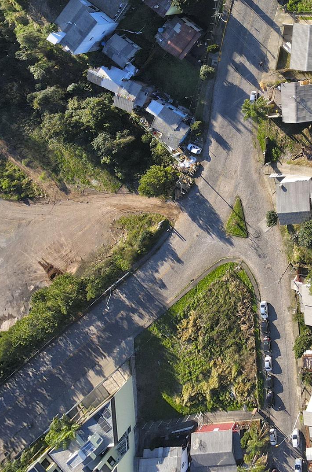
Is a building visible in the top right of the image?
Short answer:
Yes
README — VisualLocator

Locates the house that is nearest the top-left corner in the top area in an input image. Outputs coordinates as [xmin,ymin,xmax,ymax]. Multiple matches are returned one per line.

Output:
[46,0,115,54]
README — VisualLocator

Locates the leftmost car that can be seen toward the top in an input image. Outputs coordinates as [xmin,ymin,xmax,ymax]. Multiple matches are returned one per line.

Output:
[182,143,203,156]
